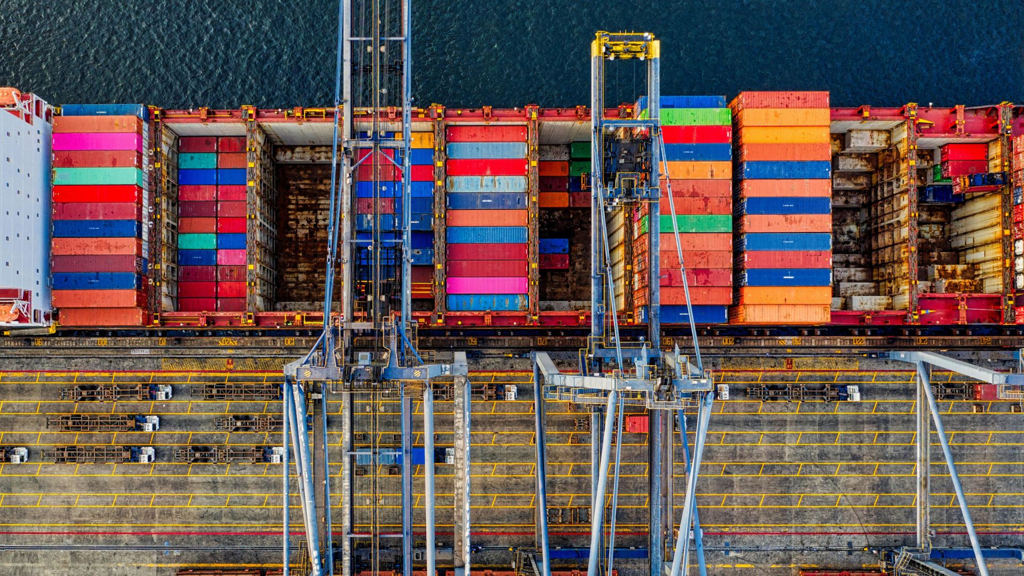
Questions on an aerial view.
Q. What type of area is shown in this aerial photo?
port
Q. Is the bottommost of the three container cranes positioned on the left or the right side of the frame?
right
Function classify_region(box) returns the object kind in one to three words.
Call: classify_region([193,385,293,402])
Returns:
vehicle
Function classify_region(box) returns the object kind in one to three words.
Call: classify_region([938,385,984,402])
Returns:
vehicle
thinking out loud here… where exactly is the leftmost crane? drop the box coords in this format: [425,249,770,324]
[285,0,488,576]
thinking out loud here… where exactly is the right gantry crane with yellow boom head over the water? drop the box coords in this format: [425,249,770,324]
[504,28,718,576]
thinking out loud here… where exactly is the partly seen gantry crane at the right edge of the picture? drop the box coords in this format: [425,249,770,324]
[852,349,1024,576]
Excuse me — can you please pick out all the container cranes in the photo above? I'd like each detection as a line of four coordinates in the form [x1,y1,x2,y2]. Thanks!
[504,28,718,576]
[285,0,488,576]
[852,349,1024,576]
